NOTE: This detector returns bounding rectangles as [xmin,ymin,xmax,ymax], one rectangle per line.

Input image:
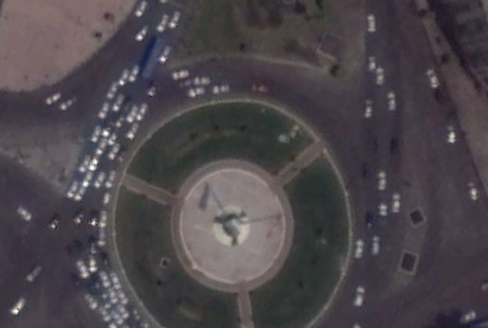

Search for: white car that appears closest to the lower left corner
[12,299,25,313]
